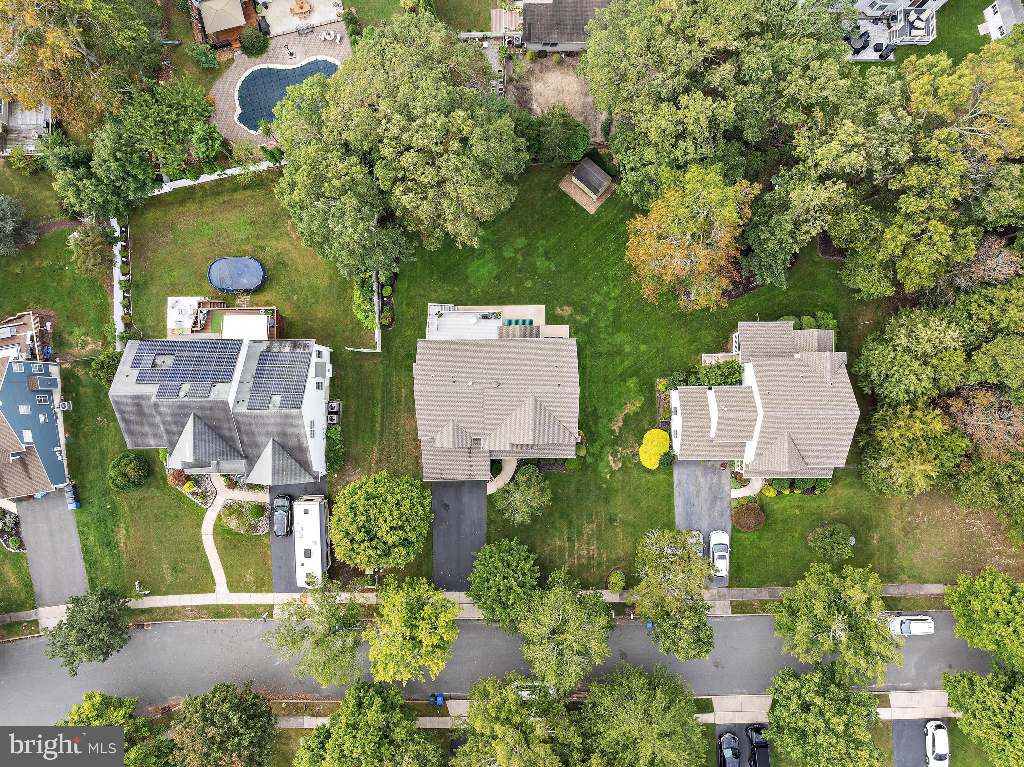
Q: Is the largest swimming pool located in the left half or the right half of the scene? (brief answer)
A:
left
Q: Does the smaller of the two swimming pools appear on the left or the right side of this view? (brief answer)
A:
left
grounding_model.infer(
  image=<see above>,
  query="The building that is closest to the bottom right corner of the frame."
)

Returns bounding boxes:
[672,321,863,479]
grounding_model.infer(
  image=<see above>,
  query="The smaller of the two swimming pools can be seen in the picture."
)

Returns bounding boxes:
[207,257,267,296]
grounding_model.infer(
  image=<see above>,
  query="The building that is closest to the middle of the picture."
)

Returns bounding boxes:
[413,325,581,482]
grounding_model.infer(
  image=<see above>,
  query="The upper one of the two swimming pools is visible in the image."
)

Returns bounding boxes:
[235,56,343,135]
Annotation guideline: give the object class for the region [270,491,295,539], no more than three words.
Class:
car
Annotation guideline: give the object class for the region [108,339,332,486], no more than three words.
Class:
house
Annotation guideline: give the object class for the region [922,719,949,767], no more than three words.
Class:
car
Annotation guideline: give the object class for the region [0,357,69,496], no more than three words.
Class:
house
